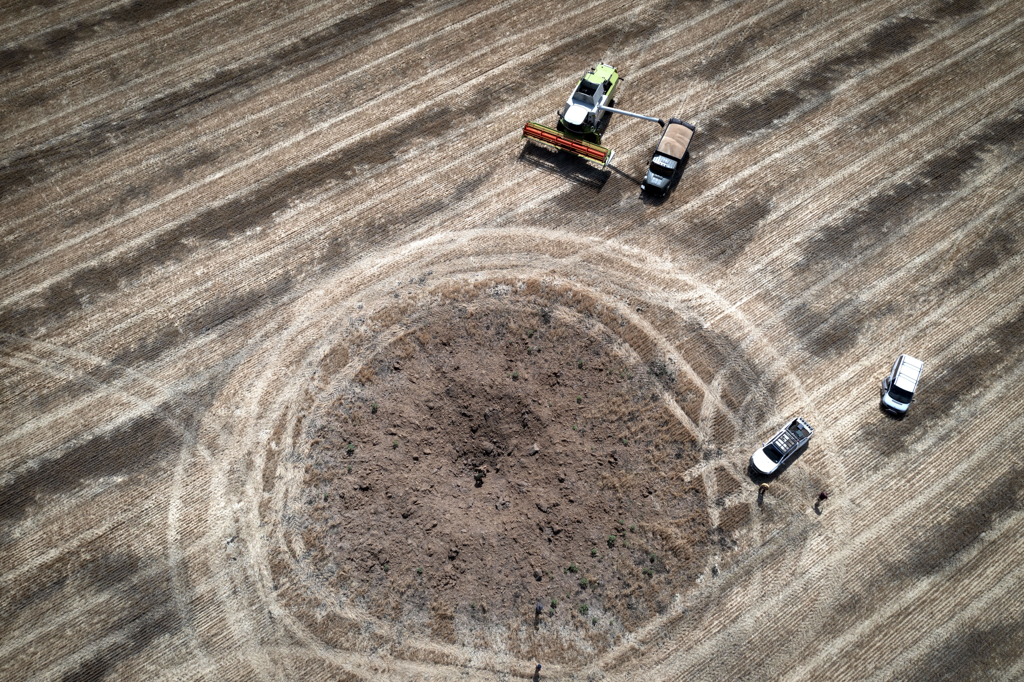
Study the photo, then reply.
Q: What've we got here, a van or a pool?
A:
van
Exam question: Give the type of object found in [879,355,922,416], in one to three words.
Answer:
van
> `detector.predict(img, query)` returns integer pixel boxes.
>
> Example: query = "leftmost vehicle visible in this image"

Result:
[518,63,665,175]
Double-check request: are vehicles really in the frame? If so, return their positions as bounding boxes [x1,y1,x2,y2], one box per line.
[640,118,696,200]
[879,355,922,416]
[751,416,815,477]
[518,63,665,175]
